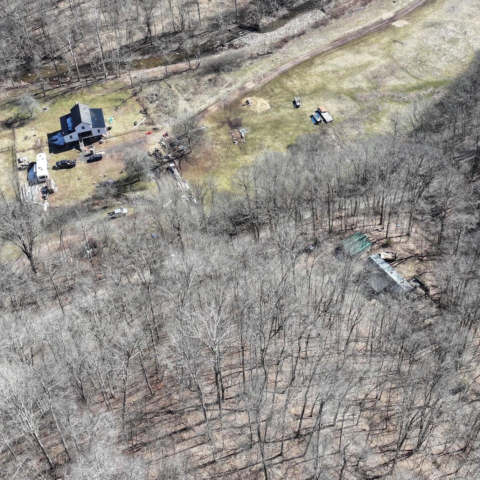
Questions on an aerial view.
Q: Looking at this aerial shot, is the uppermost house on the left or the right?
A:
left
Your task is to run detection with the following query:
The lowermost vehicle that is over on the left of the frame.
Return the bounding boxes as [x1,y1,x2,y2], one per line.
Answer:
[105,209,130,222]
